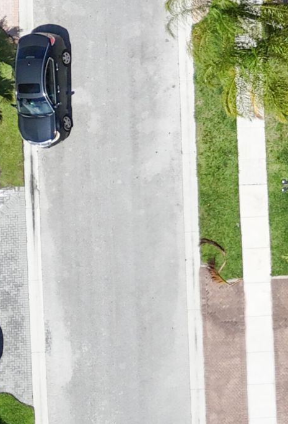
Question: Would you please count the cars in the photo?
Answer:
one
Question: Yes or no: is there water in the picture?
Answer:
No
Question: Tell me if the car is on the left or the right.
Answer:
left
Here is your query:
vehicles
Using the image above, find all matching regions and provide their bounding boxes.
[12,33,74,148]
